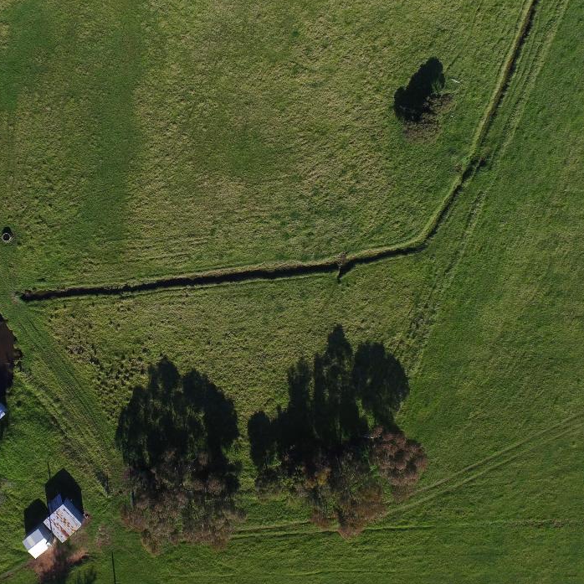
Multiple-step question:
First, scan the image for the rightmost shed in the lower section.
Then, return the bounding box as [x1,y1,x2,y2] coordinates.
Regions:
[43,493,85,543]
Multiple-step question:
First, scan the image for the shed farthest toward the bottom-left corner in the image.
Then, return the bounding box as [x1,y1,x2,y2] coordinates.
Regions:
[22,521,54,559]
